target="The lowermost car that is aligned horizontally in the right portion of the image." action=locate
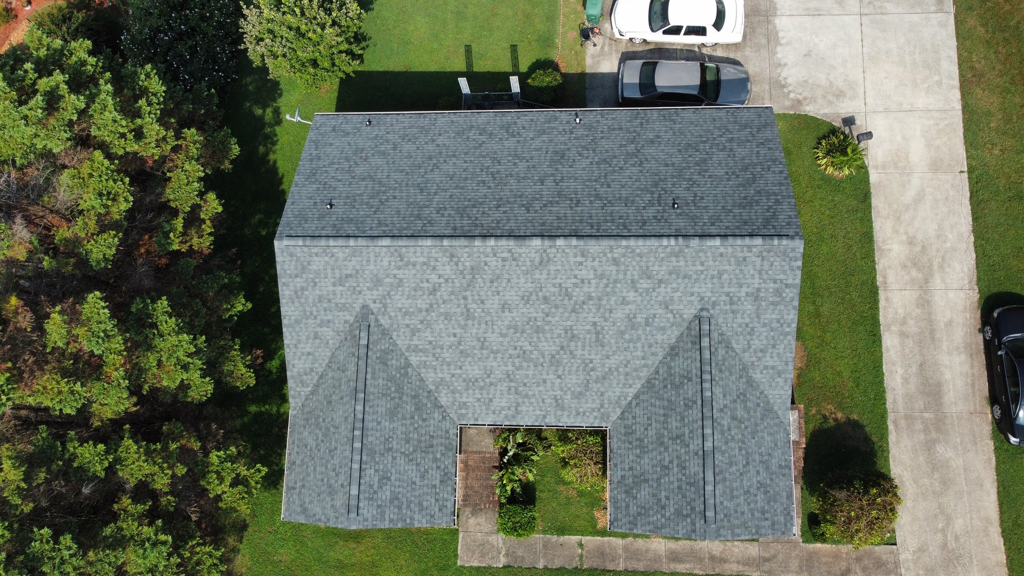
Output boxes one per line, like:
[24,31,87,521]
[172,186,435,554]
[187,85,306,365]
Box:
[618,54,751,107]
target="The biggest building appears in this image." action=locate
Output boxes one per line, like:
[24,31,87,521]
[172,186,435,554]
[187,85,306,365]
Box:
[275,104,802,541]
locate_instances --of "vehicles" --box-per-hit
[613,0,749,47]
[984,305,1024,439]
[618,54,751,107]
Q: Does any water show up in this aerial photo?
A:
No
